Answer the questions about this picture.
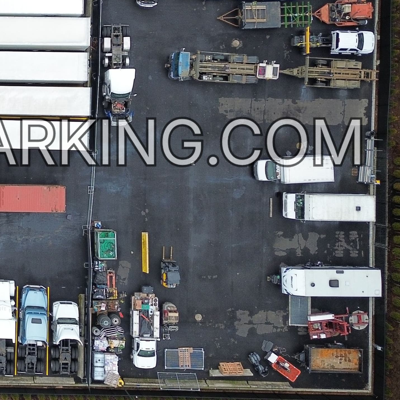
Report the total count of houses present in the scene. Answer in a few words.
zero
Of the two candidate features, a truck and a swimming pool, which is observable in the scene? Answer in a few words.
truck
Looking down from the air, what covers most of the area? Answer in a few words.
paved ground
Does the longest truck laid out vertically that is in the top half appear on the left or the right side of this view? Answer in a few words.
left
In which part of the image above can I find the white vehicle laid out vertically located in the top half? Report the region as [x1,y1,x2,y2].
[102,24,139,127]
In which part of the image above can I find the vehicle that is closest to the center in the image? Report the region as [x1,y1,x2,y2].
[160,246,179,289]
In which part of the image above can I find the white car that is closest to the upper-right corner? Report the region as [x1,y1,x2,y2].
[327,28,374,54]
